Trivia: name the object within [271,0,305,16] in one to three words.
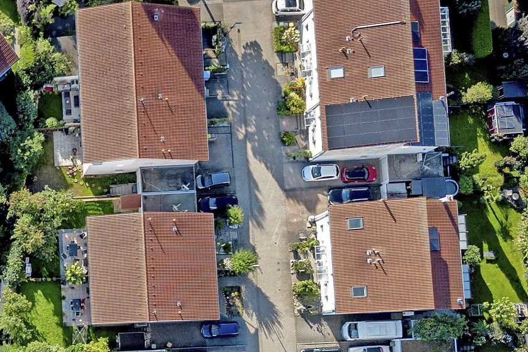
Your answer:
car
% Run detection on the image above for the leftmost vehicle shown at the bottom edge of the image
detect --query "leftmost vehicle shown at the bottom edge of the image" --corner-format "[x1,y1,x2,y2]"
[200,321,238,339]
